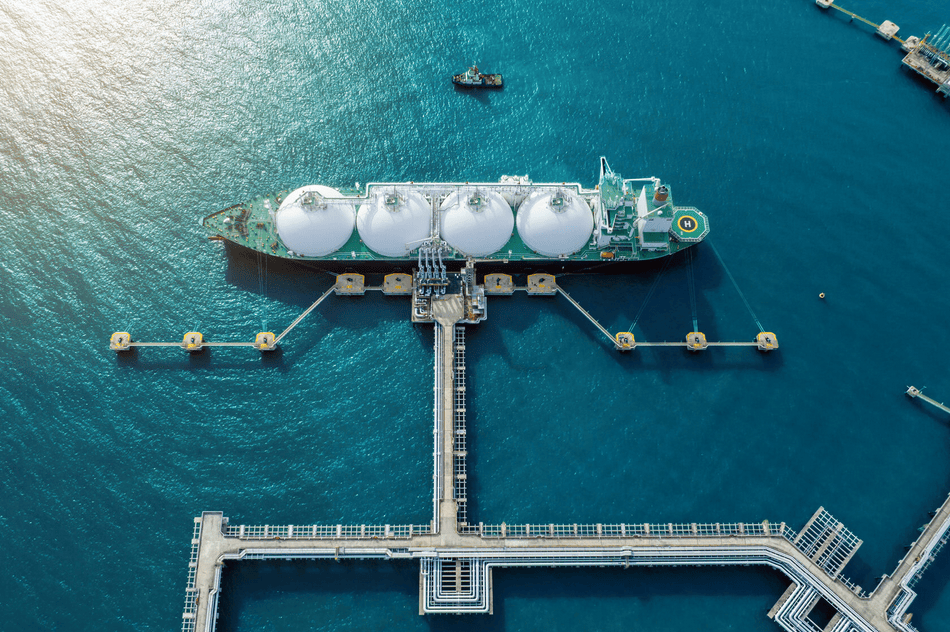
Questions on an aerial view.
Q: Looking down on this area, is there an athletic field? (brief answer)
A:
No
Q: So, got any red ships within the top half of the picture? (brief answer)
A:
No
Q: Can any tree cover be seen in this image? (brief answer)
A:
No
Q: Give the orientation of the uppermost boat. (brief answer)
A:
from side to side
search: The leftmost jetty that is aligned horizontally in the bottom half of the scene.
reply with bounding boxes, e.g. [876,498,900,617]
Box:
[224,533,787,566]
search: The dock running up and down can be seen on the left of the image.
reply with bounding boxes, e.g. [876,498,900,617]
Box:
[192,511,241,632]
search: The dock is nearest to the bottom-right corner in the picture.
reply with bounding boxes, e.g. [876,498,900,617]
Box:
[777,538,903,632]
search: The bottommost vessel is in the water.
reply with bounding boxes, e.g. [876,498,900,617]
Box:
[198,160,710,277]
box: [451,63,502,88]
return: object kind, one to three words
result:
boat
